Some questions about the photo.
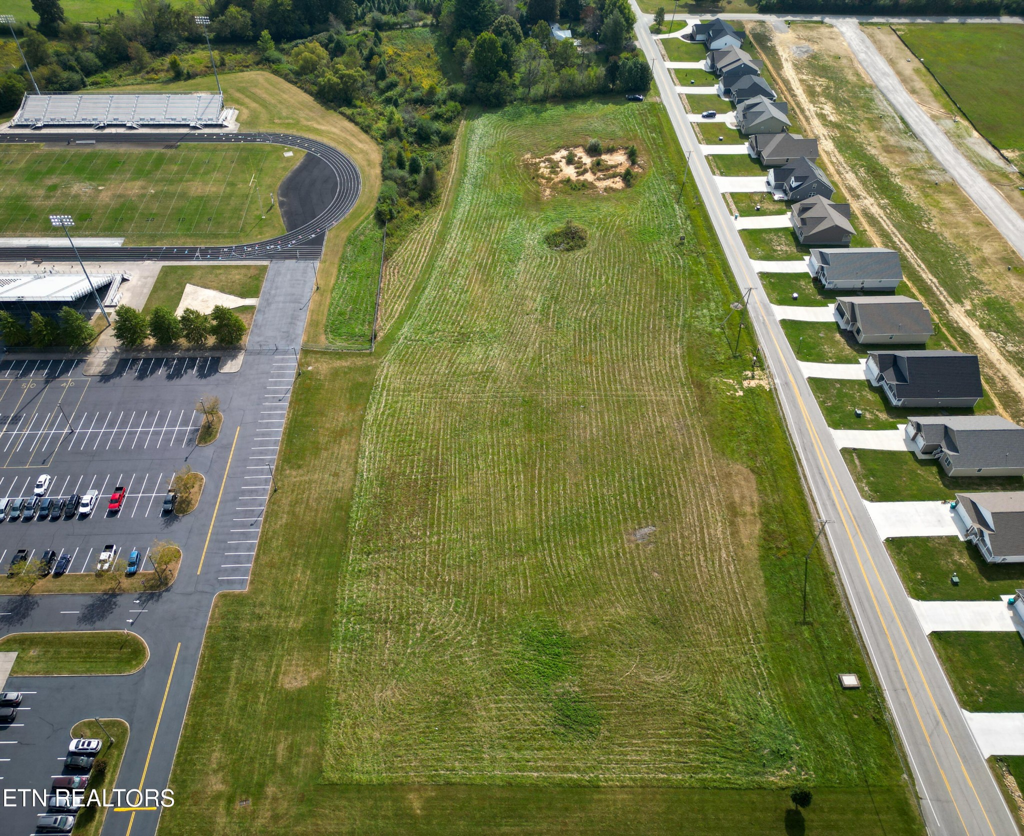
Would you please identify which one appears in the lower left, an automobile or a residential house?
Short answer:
automobile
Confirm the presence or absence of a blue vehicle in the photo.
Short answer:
Yes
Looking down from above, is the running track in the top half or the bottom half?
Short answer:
top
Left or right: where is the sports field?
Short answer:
left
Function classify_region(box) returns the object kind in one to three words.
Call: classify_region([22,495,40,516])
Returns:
car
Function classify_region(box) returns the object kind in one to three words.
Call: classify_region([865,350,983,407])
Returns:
house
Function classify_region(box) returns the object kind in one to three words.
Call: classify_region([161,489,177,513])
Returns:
vehicle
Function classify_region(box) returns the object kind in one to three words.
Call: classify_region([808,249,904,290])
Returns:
house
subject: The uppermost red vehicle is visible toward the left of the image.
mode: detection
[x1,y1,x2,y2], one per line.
[108,487,125,511]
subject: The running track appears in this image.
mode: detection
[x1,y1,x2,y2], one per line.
[0,133,360,261]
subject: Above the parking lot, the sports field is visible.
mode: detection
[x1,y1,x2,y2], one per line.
[0,143,306,248]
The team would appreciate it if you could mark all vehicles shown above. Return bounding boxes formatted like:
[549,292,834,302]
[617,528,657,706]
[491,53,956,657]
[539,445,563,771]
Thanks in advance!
[37,814,73,832]
[32,475,48,495]
[54,553,71,576]
[64,494,80,514]
[69,738,102,754]
[0,691,23,706]
[0,707,18,722]
[52,774,87,791]
[108,487,125,511]
[161,489,177,513]
[124,551,140,573]
[63,754,96,769]
[96,545,115,572]
[47,794,82,811]
[80,489,98,513]
[702,110,716,117]
[22,495,40,516]
[0,497,13,519]
[50,499,66,517]
[7,497,26,519]
[39,550,57,573]
[38,498,53,517]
